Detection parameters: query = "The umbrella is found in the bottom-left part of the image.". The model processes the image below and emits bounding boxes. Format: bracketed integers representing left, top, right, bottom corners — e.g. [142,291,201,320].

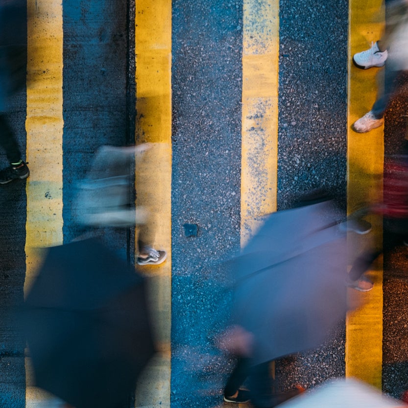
[21,237,167,407]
